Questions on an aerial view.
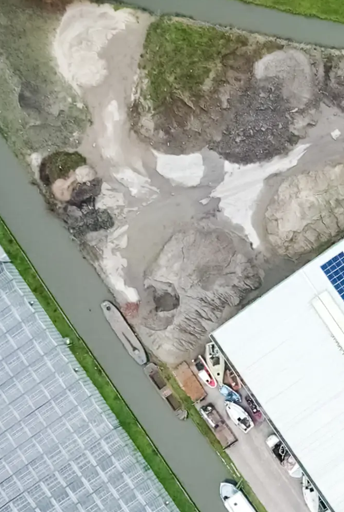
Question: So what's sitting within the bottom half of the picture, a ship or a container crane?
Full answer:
Visible within the bottom half of the picture is a ship.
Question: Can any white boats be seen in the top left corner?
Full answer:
No, there is no white boat in the top left corner.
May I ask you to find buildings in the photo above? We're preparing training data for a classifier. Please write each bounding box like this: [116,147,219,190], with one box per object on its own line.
[0,261,182,512]
[206,239,344,512]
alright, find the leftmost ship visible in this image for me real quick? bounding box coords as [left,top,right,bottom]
[100,301,150,366]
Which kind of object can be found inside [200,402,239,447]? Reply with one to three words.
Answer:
trailer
